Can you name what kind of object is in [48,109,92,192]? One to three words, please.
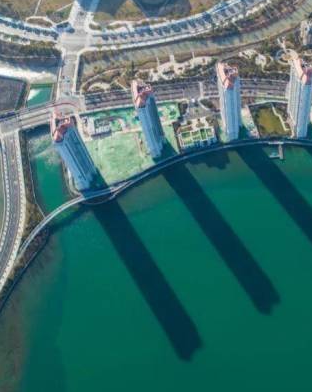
building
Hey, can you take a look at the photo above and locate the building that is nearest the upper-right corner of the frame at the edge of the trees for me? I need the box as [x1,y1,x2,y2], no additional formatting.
[296,19,312,45]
